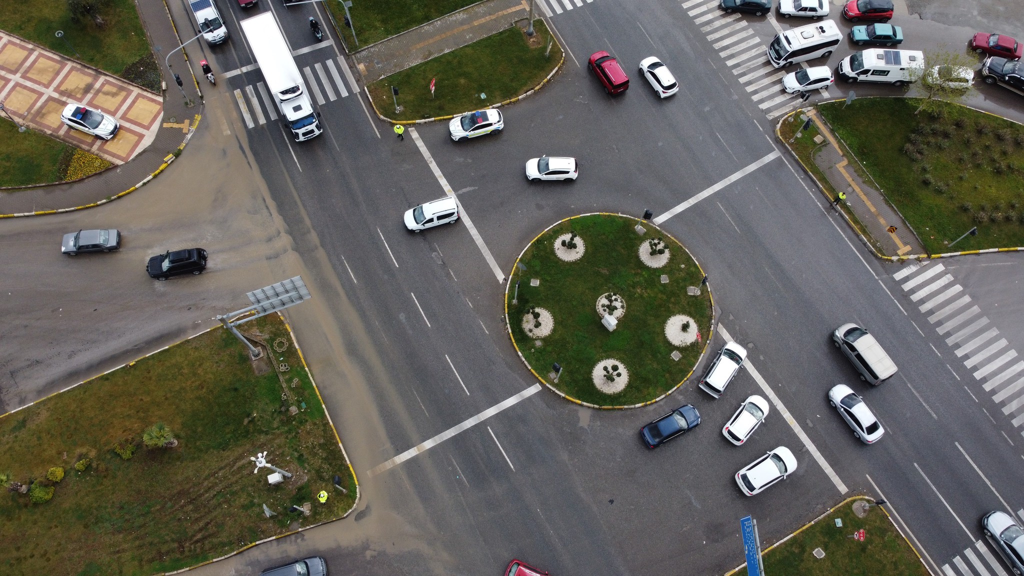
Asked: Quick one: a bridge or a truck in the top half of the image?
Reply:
truck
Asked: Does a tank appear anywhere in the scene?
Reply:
No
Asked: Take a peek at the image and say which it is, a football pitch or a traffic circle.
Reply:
traffic circle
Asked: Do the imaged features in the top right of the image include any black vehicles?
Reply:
Yes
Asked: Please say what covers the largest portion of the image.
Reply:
paved ground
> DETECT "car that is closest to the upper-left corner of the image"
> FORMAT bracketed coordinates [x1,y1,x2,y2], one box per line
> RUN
[55,101,119,141]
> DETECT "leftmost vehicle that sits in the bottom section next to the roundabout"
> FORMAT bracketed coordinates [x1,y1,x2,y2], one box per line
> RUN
[639,405,702,450]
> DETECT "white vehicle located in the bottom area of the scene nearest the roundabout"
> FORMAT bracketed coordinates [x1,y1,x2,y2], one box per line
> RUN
[698,340,748,400]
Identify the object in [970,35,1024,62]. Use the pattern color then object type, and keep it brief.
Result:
red car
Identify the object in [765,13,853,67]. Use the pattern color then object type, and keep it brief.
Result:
white vehicle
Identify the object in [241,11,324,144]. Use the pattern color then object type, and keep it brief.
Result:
white truck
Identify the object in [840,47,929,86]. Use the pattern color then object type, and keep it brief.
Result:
white van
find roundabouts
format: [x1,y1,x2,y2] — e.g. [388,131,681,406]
[503,212,714,410]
